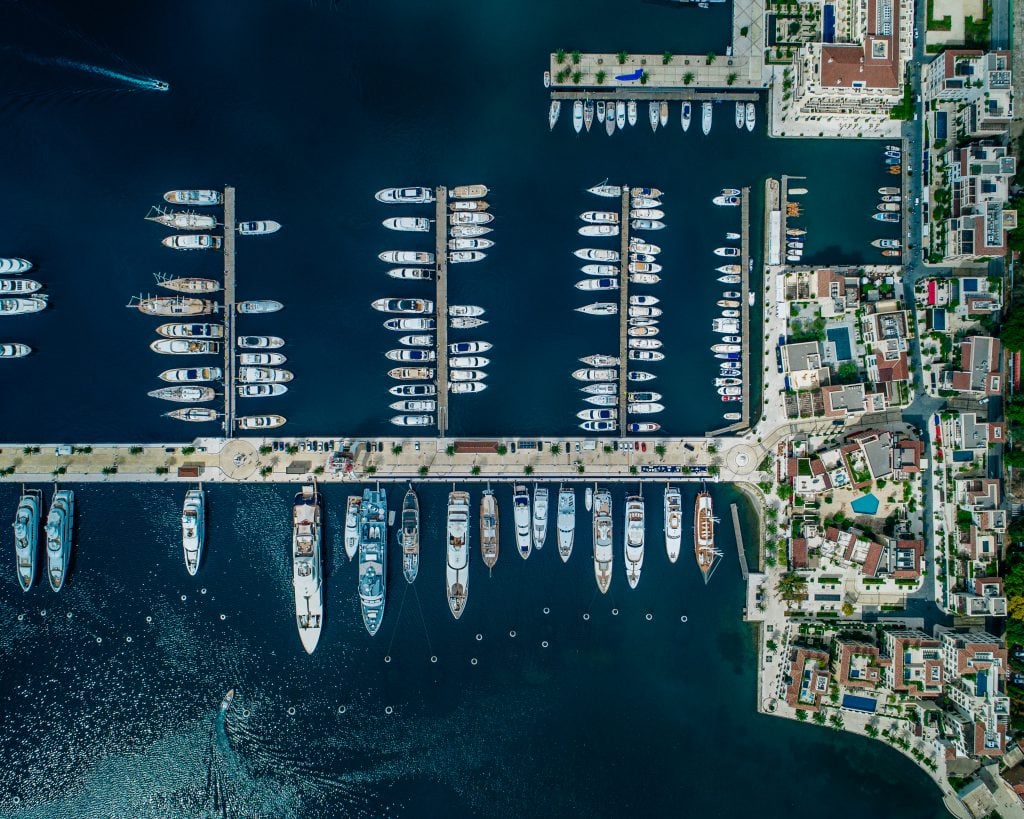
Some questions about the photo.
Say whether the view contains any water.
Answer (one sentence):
Yes, water can be seen from above here.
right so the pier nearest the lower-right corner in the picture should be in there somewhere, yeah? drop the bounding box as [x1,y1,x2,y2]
[730,503,748,578]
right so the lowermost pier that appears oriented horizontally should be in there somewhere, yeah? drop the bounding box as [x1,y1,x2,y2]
[0,437,736,483]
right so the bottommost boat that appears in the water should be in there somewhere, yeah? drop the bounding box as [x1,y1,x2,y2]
[219,690,233,712]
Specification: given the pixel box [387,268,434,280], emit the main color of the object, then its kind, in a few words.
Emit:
white boat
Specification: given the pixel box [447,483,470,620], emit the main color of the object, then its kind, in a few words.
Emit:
white boat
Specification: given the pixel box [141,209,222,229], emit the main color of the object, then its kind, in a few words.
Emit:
white ship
